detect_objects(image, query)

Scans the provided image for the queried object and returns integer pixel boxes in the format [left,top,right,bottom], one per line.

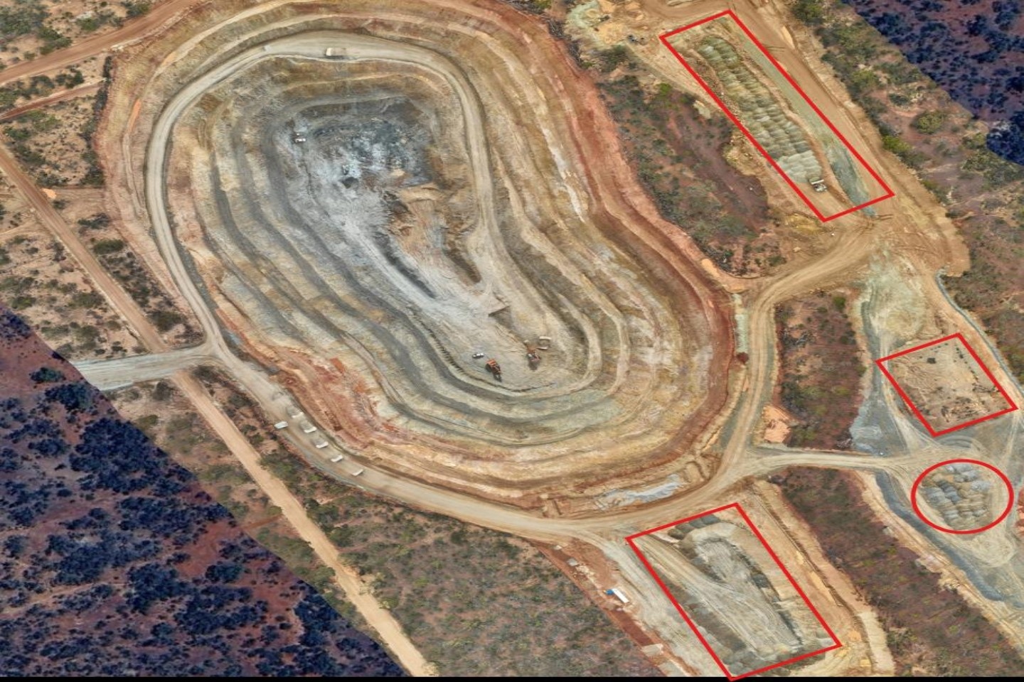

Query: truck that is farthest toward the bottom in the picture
[608,584,634,607]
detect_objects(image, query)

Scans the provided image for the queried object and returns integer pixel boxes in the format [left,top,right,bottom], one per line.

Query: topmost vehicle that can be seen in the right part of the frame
[808,172,823,187]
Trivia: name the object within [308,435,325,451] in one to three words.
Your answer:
vehicle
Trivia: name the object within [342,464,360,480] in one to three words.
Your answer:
vehicle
